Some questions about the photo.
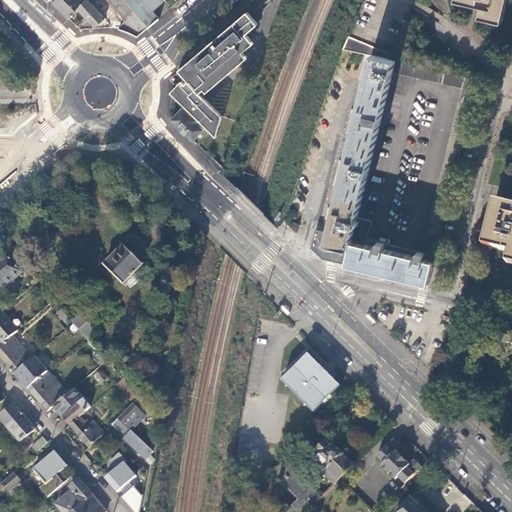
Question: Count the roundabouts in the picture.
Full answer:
In total, there is 1 roundabout in the scene.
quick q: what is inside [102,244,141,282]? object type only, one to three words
house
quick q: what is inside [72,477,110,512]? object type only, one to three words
house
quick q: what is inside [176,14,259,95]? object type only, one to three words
building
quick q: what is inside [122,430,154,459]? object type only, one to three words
shed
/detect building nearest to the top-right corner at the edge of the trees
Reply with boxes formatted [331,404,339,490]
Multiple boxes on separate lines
[451,0,505,28]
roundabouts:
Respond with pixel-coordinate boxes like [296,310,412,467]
[36,34,176,154]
